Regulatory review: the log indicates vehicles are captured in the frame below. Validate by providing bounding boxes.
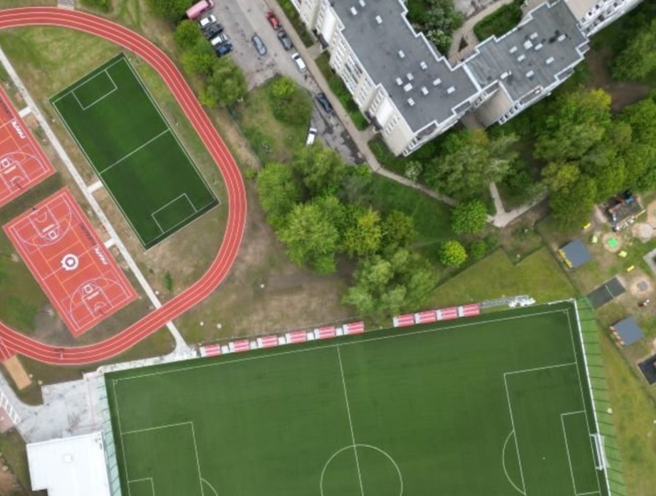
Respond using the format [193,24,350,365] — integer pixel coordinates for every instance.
[210,32,229,45]
[217,42,234,55]
[305,125,317,147]
[198,14,217,27]
[203,22,224,37]
[315,92,332,113]
[265,12,280,30]
[185,0,212,19]
[276,30,292,51]
[251,35,266,55]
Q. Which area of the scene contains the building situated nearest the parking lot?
top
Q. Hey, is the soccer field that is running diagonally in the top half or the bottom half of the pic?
top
